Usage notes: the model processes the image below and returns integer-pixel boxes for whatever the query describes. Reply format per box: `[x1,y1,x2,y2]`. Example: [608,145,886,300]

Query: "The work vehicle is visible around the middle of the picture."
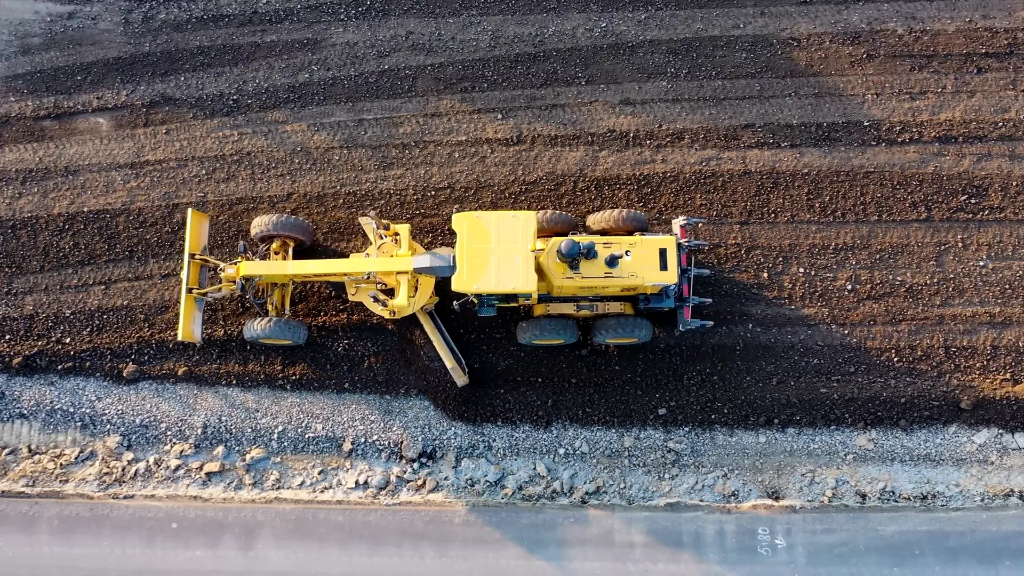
[177,204,714,388]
